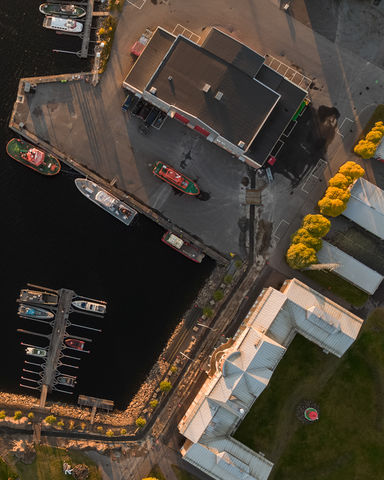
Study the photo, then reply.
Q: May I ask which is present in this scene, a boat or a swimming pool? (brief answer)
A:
boat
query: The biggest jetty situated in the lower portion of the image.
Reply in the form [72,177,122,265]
[17,284,107,394]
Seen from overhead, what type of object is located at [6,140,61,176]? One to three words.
boat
